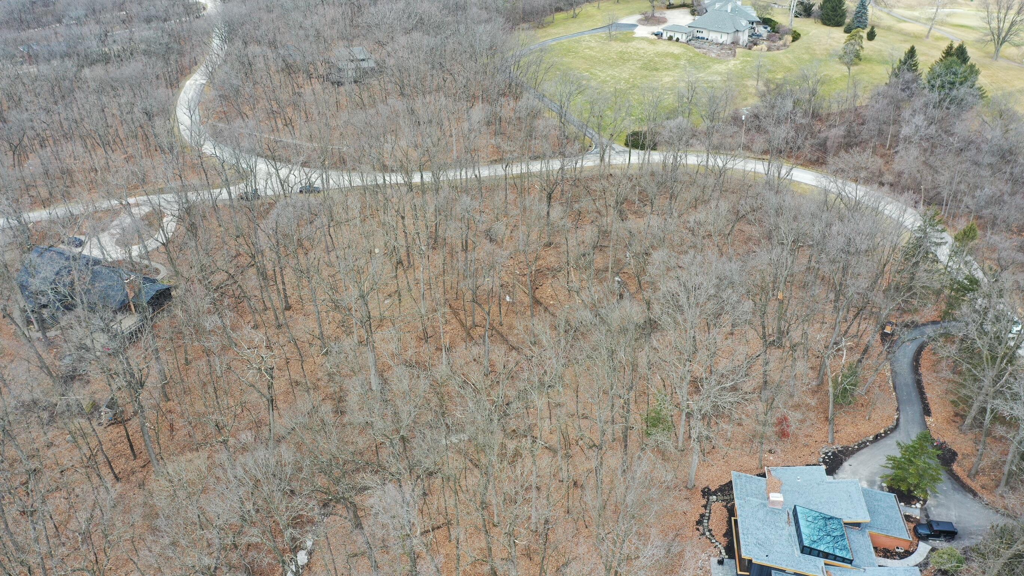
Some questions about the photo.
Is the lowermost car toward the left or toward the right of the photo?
right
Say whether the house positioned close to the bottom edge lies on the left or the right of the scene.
right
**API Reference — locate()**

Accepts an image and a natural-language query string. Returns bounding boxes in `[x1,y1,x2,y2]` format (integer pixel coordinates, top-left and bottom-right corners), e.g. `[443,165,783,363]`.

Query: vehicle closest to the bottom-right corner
[912,518,961,542]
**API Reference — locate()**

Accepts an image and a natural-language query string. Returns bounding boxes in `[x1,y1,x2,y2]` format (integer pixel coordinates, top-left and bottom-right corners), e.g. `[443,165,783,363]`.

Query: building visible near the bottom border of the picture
[728,466,921,576]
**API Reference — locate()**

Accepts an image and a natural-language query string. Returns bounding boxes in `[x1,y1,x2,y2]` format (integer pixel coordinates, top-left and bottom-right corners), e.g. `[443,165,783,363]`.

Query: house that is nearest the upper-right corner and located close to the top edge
[663,0,781,44]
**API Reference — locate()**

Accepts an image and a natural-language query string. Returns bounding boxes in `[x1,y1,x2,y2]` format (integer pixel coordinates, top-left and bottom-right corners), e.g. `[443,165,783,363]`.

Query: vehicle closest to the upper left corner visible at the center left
[60,232,87,245]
